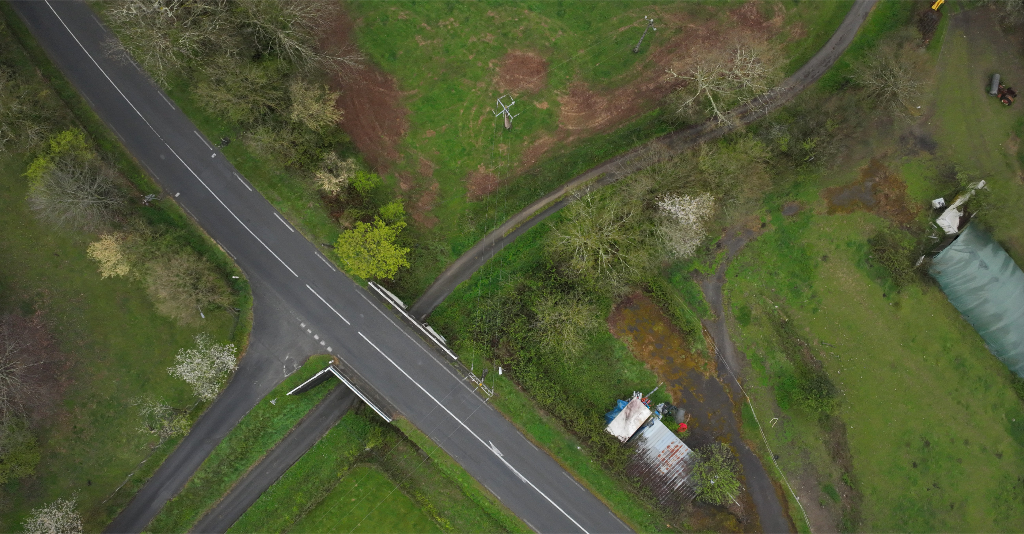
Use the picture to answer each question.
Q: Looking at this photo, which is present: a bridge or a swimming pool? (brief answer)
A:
bridge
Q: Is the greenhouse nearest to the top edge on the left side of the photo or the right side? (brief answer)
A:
right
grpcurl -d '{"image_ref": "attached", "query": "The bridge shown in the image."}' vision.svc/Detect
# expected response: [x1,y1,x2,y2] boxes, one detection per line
[322,278,488,421]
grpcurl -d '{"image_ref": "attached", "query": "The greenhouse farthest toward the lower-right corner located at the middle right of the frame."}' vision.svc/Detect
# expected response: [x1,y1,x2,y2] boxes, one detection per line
[924,224,1024,385]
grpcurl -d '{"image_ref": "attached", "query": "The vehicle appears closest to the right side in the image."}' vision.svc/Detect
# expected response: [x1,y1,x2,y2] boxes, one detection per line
[1000,79,1022,104]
